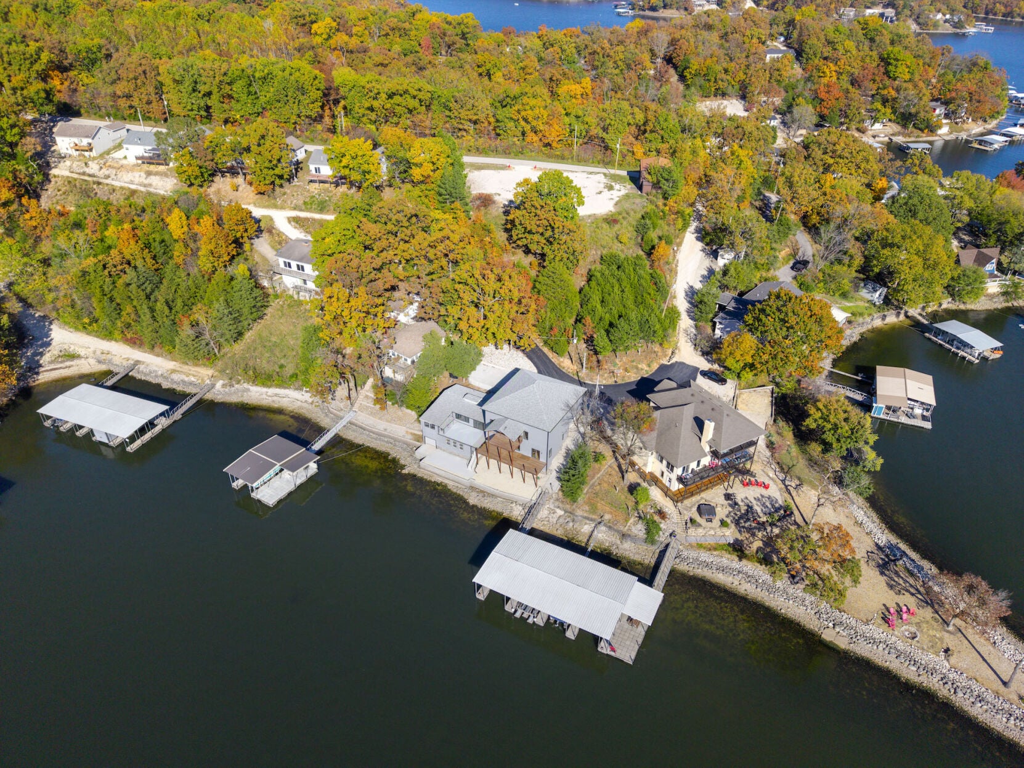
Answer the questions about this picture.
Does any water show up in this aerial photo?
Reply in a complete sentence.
Yes, there's water in this view.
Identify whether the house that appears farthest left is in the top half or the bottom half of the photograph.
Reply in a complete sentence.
You can find the house that appears farthest left in the top half.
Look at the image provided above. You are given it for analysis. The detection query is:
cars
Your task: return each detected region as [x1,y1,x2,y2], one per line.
[791,258,811,270]
[699,367,730,383]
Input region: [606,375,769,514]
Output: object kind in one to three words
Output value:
house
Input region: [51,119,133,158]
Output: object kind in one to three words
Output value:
house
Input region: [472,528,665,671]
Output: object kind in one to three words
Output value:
pier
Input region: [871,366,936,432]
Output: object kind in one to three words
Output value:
pier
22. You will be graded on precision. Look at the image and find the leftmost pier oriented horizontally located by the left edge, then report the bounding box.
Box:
[37,383,191,456]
